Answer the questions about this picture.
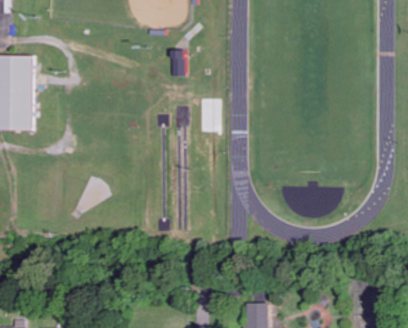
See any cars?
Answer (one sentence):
No, no car is visible in the scene.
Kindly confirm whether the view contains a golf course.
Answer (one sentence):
No, I can't see a single golf course in this photo.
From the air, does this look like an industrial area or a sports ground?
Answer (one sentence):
What you see here is a sports ground.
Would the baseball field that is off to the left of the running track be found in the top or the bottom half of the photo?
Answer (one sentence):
You can find the baseball field that is off to the left of the running track in the top half.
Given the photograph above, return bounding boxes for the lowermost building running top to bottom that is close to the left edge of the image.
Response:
[0,54,36,130]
